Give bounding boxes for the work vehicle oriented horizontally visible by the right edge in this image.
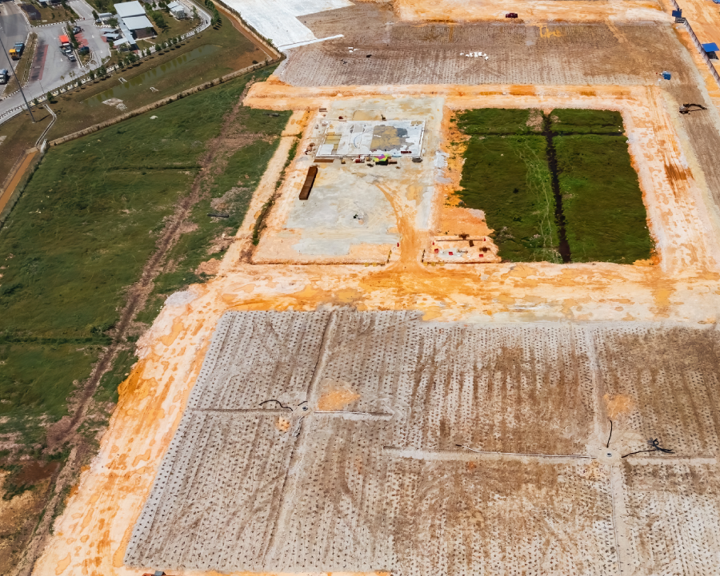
[678,95,715,112]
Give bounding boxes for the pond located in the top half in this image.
[81,44,223,109]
